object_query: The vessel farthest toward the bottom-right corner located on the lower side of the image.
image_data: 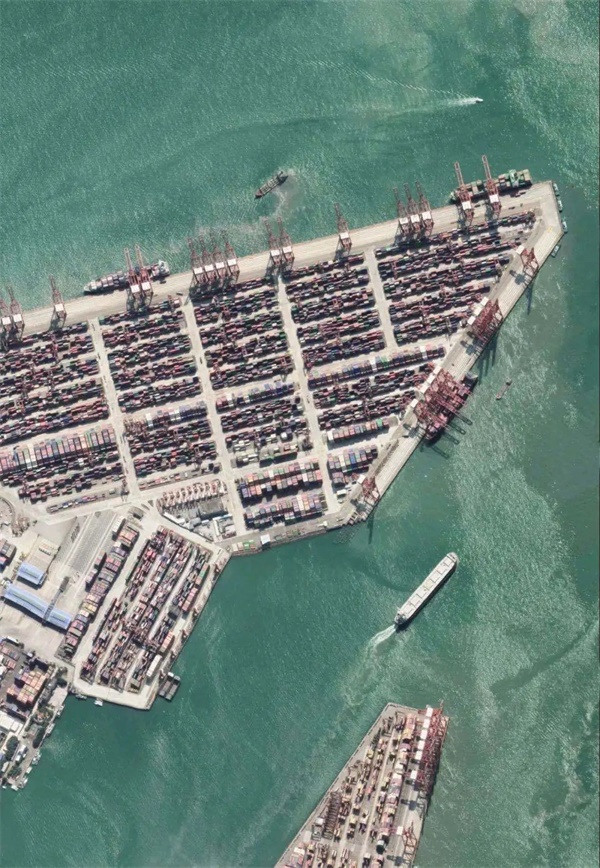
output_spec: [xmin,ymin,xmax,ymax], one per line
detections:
[395,553,456,630]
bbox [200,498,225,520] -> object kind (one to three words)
building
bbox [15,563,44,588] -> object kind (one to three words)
building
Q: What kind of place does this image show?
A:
port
